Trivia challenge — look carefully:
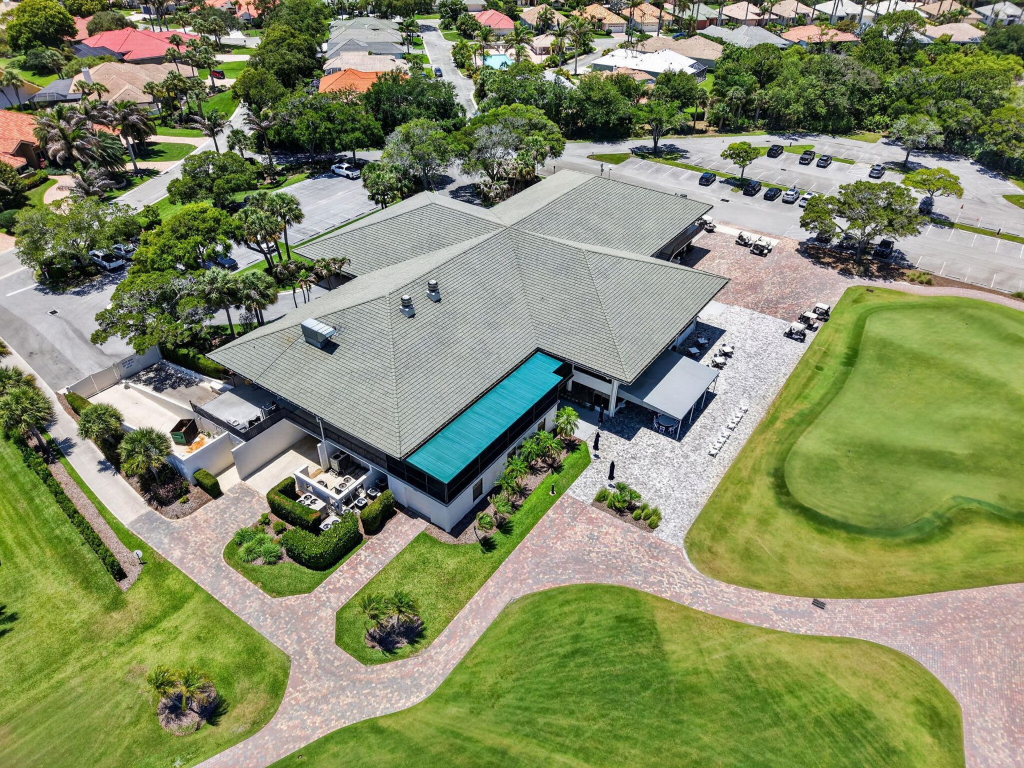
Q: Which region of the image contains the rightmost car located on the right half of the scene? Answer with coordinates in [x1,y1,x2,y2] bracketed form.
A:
[917,196,937,213]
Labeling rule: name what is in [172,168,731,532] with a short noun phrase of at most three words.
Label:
building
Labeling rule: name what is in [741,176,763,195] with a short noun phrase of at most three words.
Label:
car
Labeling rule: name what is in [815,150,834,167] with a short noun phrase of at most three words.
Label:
car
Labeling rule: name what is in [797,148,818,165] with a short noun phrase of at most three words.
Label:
vehicle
